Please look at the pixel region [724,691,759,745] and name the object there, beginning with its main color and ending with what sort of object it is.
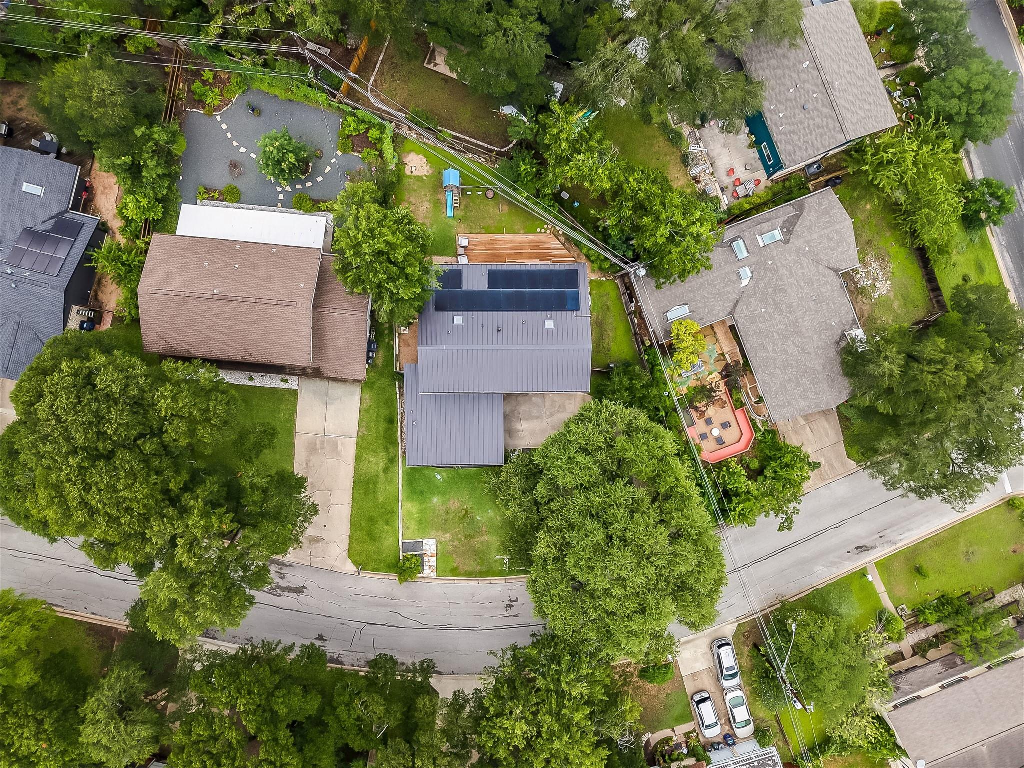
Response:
white car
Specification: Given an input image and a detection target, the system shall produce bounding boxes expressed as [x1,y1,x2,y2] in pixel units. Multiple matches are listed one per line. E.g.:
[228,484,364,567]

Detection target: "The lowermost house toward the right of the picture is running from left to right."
[702,732,783,768]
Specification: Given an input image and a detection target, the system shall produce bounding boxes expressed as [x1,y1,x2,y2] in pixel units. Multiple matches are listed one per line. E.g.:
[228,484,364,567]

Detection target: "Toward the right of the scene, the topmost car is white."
[710,637,746,696]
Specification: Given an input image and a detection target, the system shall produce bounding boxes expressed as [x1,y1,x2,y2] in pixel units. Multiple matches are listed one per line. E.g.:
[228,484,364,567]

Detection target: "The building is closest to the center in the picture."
[405,262,592,469]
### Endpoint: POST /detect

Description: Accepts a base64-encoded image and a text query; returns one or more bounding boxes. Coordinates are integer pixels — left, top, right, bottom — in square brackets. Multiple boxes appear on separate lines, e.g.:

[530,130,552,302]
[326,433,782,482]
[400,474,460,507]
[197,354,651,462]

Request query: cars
[691,691,725,745]
[710,637,746,696]
[724,691,759,745]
